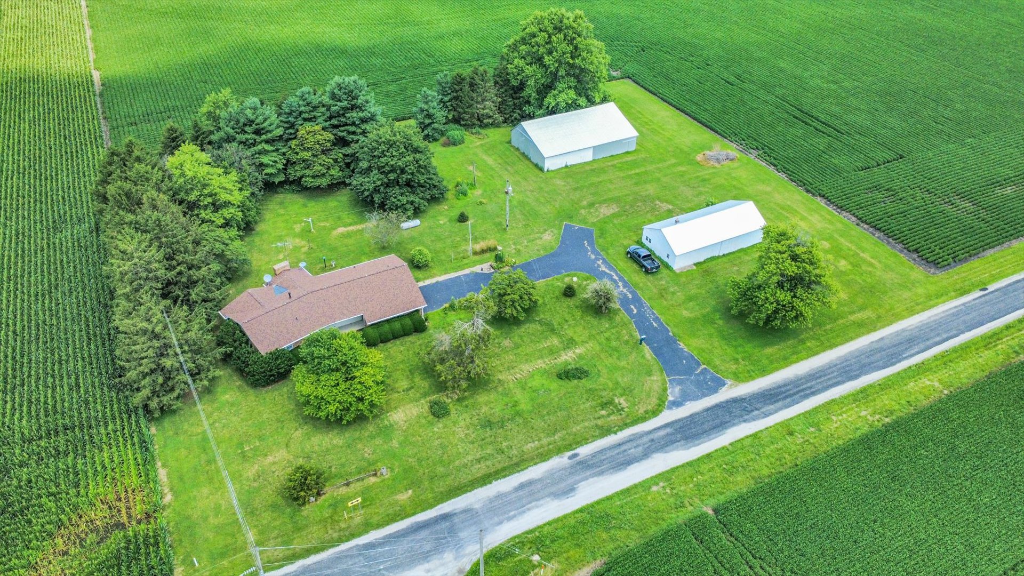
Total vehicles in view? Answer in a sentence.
I count just 1 vehicle.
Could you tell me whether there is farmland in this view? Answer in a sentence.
Yes, there's farmland in this view.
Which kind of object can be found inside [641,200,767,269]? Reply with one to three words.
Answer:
shed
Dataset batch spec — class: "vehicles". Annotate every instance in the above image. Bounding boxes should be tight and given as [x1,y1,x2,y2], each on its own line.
[627,244,663,272]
